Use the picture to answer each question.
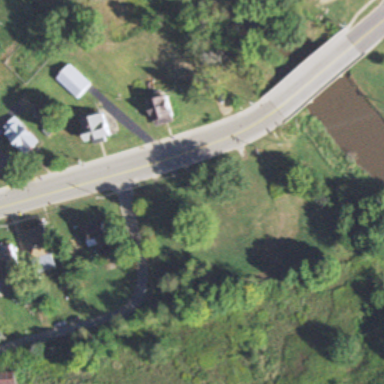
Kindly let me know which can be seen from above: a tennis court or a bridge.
bridge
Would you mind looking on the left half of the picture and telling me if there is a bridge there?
No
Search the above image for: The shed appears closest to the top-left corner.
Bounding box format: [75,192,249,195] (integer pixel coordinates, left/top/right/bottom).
[58,63,94,98]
